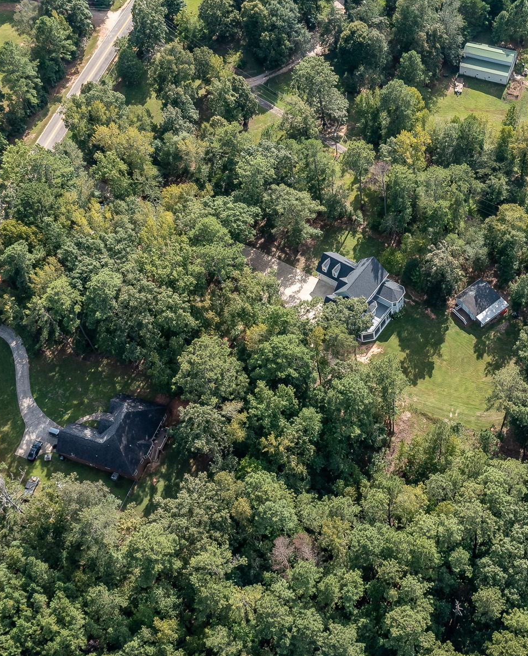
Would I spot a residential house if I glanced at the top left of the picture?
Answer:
No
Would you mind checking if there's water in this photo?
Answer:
No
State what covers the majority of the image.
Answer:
trees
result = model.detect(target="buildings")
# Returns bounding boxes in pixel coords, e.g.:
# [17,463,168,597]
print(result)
[459,42,519,85]
[446,281,504,331]
[315,252,406,342]
[55,393,170,479]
